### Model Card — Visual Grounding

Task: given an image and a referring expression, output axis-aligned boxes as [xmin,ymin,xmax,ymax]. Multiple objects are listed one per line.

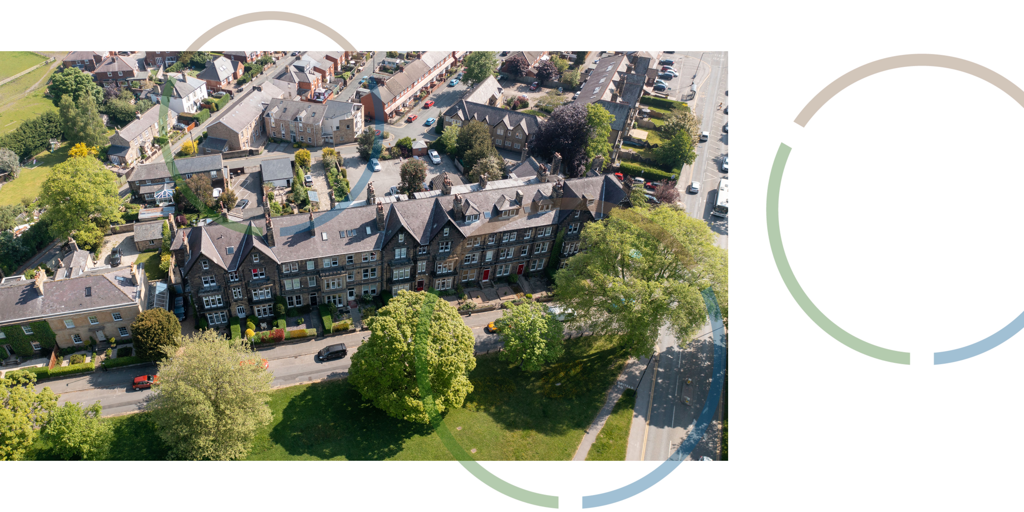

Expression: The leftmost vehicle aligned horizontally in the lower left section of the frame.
[127,372,160,390]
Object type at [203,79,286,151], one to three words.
building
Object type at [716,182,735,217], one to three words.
vehicle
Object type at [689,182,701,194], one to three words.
vehicle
